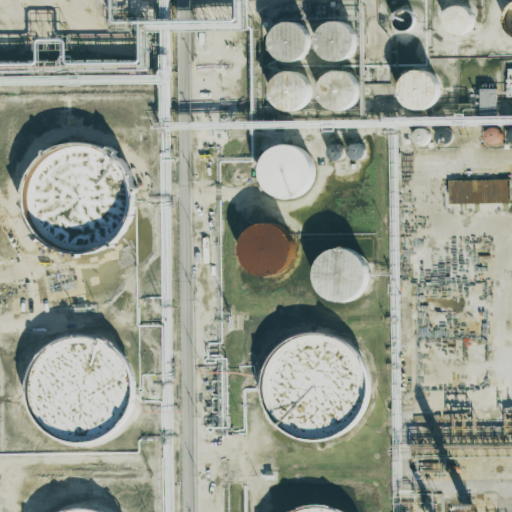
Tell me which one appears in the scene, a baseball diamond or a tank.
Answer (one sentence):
This aerial view contains a tank.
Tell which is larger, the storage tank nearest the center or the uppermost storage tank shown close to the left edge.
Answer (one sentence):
The uppermost storage tank shown close to the left edge takes up more space than the storage tank nearest the center.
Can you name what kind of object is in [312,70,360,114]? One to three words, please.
storage tank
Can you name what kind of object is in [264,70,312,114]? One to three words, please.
storage tank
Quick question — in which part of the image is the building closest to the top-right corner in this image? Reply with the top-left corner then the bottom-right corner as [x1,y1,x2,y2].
[480,86,498,109]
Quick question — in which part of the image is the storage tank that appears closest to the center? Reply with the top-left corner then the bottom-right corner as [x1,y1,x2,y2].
[237,222,296,278]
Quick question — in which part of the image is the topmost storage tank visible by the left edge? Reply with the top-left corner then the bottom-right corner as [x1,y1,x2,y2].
[22,143,134,254]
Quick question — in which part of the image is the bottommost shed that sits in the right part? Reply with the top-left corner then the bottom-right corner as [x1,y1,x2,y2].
[448,180,510,204]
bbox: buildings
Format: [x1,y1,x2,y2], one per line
[480,86,498,109]
[448,180,510,204]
